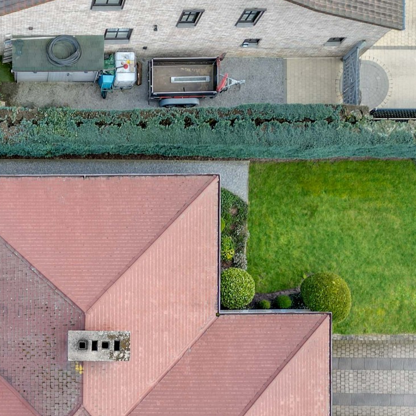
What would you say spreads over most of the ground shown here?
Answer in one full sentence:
The largest share of the image is taken up by buildings.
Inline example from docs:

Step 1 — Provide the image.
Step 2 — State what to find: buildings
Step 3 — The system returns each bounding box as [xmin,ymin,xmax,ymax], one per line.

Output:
[0,175,332,416]
[0,0,406,57]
